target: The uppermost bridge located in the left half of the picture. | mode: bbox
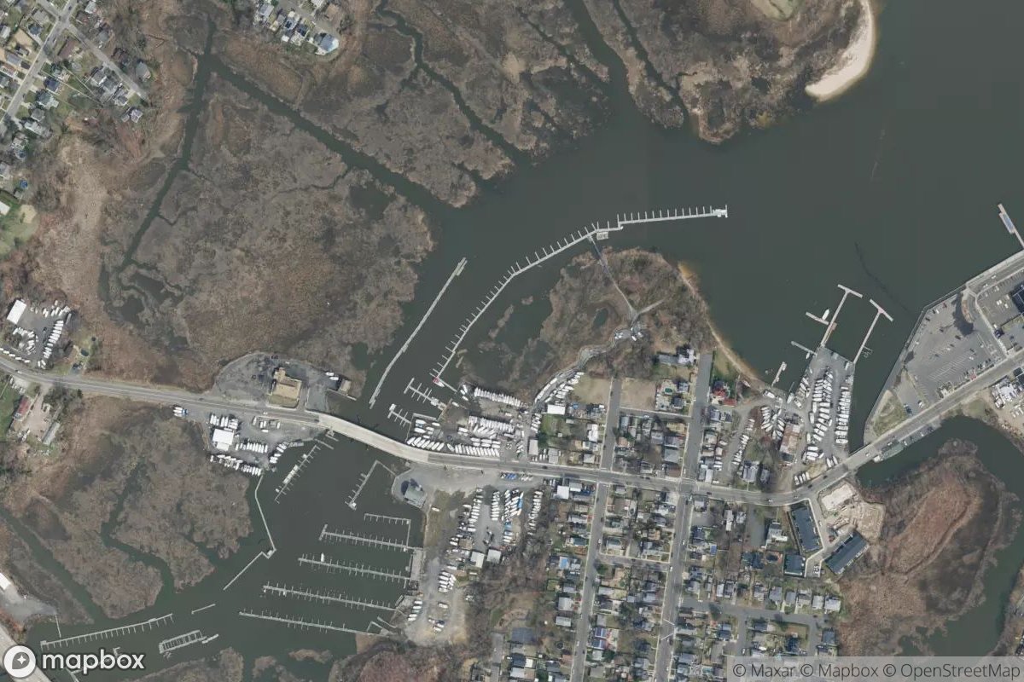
[318,411,431,464]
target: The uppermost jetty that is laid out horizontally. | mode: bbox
[617,204,727,227]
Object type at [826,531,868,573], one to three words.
building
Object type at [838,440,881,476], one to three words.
bridge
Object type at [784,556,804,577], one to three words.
building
